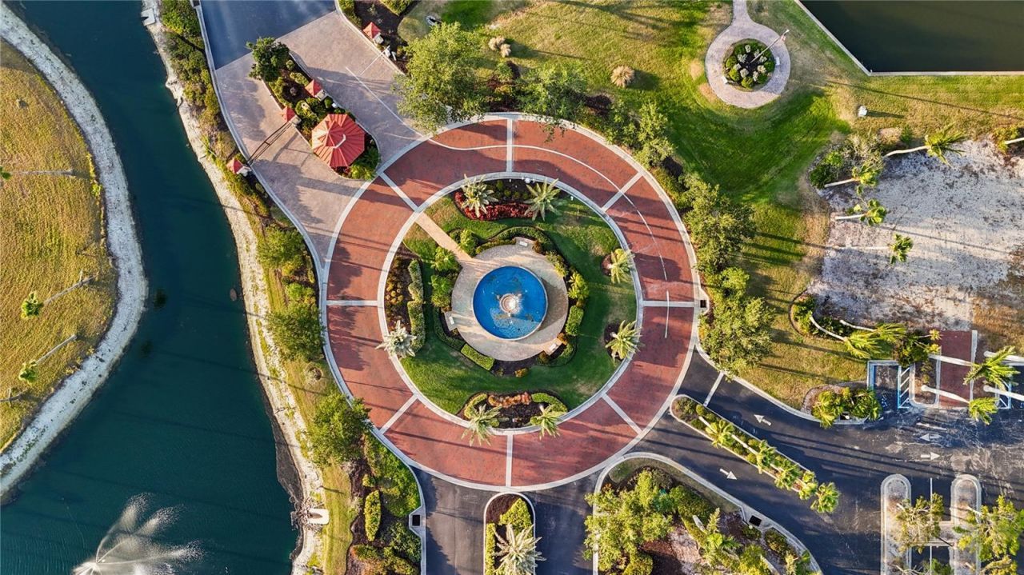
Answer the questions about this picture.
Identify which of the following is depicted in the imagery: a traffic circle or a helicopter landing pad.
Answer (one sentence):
This aerial view contains a traffic circle.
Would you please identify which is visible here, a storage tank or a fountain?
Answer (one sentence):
Of the two, only a fountain appears.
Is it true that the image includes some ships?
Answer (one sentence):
No, the picture doesn't show any ship.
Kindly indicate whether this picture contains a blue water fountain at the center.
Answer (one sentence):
Yes, you'll find a blue water fountain at the center.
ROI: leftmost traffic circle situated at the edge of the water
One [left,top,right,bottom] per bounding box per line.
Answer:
[319,111,703,487]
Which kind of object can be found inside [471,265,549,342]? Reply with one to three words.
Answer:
fountain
